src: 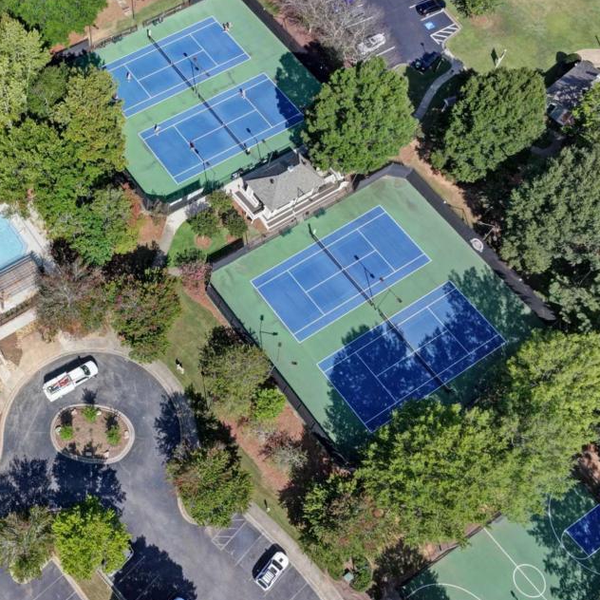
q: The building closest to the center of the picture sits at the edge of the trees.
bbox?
[205,150,345,239]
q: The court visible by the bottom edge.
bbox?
[382,454,600,600]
